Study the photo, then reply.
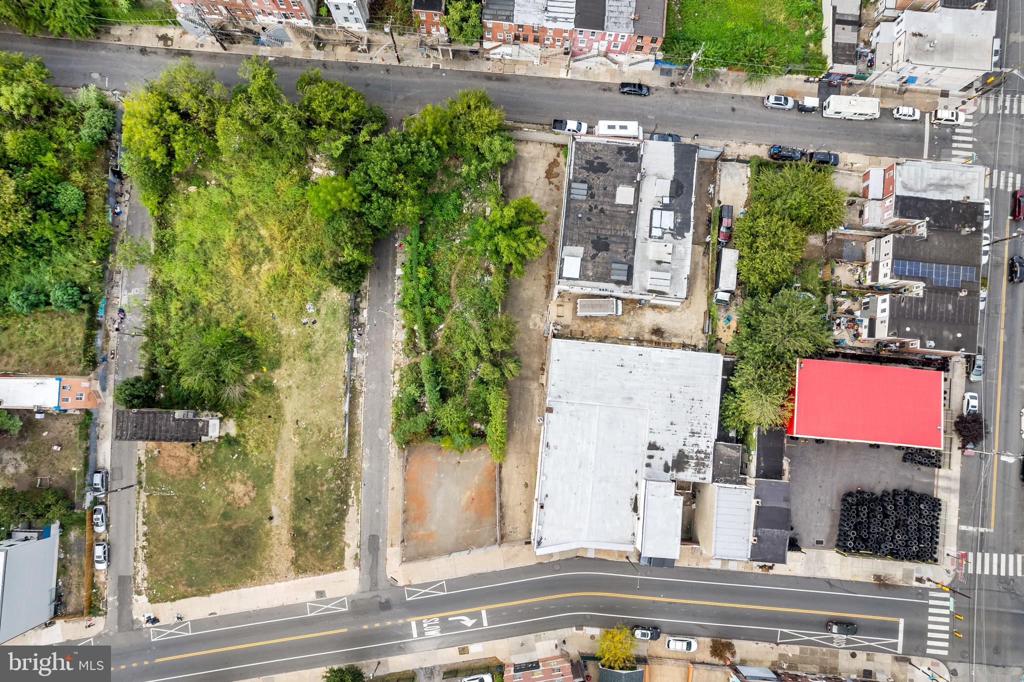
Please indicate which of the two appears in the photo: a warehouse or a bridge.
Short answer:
warehouse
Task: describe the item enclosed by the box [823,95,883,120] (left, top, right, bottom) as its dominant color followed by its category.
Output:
white camper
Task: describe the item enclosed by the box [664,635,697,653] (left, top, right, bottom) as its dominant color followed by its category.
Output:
white car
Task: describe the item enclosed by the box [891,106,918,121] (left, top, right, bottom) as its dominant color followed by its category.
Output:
white car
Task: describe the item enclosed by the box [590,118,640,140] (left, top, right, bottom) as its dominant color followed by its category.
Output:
white truck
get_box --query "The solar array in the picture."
[893,260,976,287]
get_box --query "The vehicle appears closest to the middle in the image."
[573,298,619,316]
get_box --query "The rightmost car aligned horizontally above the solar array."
[929,110,962,126]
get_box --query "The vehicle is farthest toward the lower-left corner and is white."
[92,540,112,570]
